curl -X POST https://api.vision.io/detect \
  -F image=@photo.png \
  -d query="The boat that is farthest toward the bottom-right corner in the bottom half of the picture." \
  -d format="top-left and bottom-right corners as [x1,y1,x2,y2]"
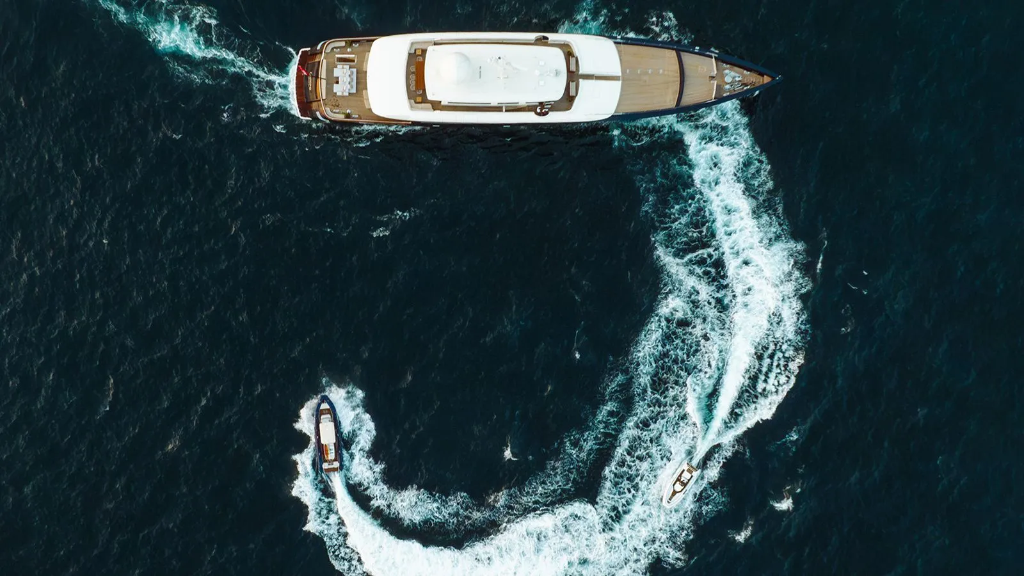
[663,460,701,508]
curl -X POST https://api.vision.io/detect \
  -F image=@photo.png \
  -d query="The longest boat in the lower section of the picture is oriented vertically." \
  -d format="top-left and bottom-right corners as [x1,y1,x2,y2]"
[315,394,344,474]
